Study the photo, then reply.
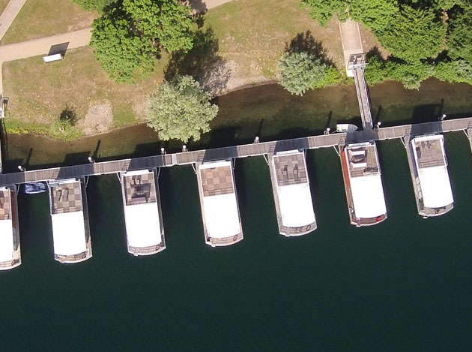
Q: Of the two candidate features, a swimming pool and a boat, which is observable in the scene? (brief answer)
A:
boat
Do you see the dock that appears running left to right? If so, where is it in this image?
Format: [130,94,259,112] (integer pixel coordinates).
[0,117,472,197]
